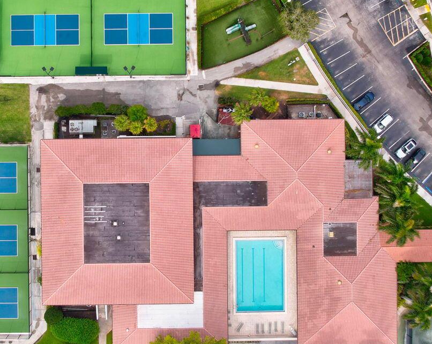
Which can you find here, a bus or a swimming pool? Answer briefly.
swimming pool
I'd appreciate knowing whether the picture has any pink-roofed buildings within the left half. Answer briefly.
Yes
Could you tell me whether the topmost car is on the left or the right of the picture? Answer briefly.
right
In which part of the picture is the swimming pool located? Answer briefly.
bottom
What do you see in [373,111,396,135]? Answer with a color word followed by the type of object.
white car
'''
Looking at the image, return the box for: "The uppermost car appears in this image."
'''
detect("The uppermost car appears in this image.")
[353,89,377,111]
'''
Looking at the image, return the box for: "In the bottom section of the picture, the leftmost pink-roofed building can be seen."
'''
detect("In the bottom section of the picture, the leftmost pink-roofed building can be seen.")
[40,137,194,306]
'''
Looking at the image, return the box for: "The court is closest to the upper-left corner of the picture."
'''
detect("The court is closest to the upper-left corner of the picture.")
[0,0,91,76]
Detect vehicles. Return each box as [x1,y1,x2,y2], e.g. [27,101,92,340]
[373,111,396,135]
[353,89,377,111]
[406,147,430,170]
[394,136,419,160]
